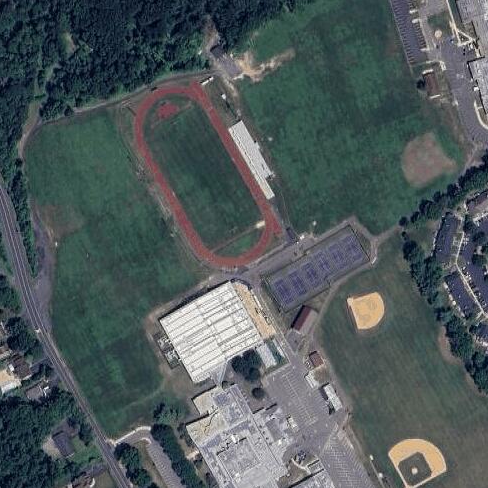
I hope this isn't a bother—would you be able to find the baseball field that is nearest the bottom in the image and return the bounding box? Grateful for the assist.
[388,439,446,488]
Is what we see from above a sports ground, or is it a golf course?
sports ground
